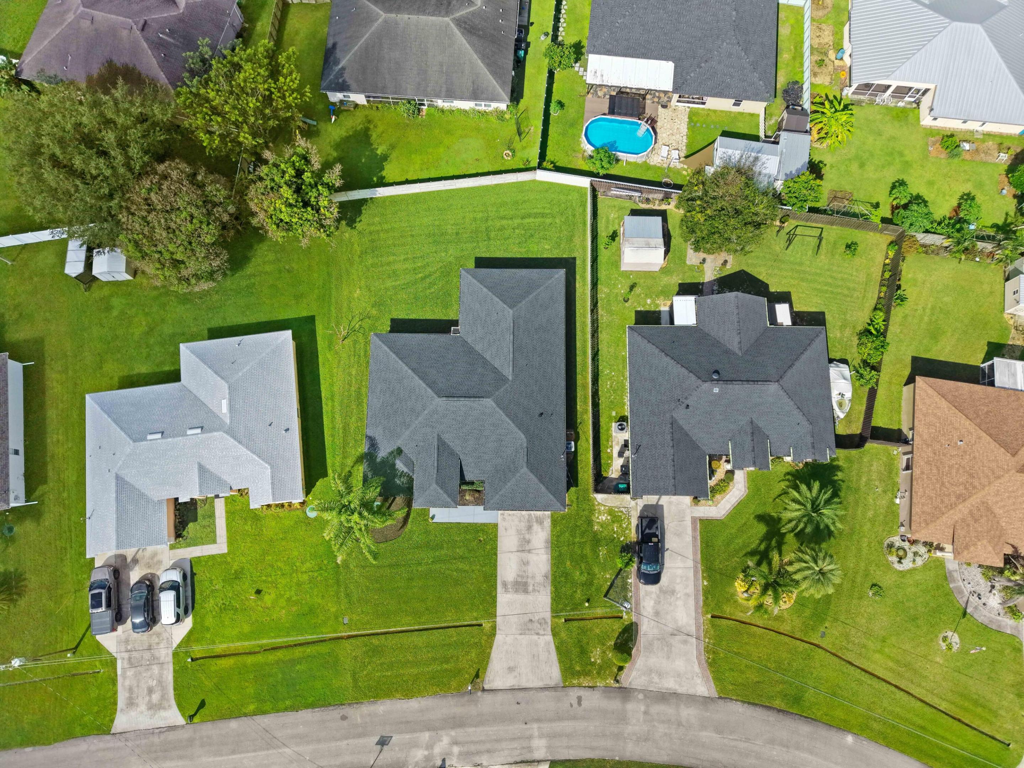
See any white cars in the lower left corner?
Yes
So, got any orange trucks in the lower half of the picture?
No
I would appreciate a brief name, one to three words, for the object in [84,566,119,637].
truck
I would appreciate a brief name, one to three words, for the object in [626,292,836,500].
house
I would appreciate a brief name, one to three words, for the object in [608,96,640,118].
solar panel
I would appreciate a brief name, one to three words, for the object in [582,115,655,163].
swimming pool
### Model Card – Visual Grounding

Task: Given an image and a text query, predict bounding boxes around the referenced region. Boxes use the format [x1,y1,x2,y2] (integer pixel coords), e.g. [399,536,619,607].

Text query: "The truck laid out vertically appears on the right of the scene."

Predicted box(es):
[635,516,664,584]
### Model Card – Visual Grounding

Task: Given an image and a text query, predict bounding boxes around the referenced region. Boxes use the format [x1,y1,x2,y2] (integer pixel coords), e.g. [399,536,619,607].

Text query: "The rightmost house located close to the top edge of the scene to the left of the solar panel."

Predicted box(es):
[319,0,518,111]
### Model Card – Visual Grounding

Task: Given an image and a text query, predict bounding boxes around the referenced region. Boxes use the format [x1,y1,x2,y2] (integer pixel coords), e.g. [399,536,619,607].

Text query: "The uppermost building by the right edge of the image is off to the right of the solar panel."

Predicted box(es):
[845,0,1024,139]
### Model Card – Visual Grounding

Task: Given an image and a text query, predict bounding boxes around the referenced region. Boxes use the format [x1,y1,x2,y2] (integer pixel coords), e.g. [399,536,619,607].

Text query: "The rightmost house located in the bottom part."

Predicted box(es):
[900,357,1024,568]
